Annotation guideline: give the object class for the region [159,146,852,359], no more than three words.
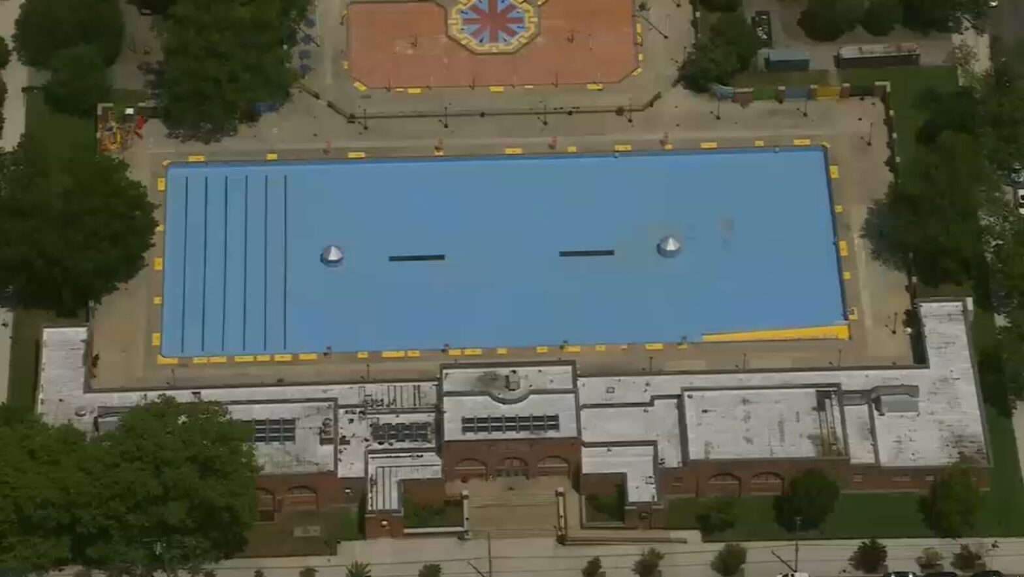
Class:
swimming pool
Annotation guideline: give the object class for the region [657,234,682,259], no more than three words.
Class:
fountain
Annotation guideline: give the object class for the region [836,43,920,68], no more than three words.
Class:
trailer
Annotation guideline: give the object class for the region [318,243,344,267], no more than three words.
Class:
fountain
